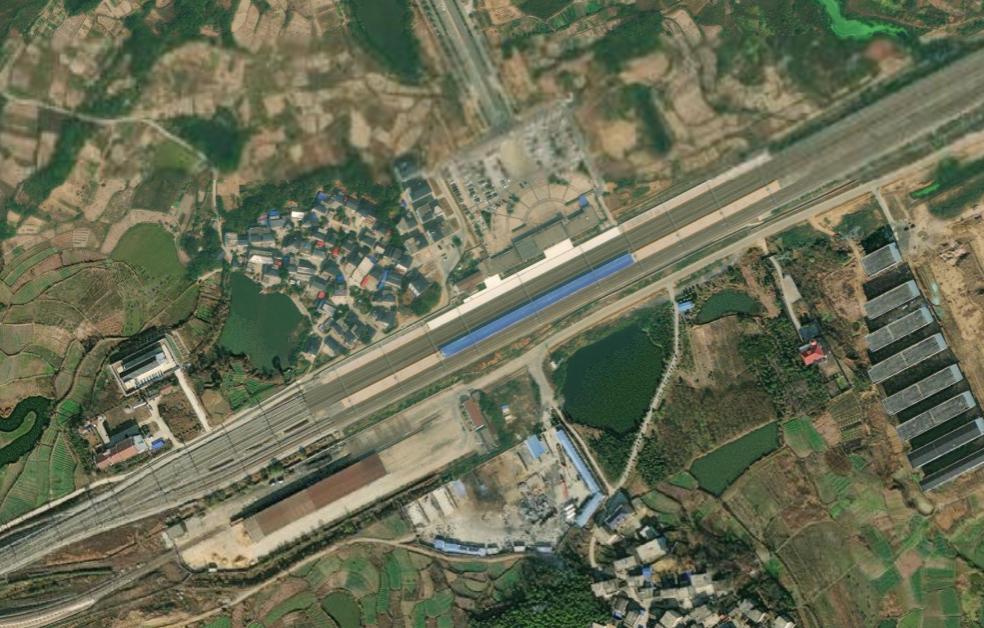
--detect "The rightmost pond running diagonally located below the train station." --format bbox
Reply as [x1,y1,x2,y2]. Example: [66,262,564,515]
[688,422,778,497]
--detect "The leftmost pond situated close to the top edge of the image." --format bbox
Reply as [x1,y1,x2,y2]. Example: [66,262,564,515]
[356,0,417,83]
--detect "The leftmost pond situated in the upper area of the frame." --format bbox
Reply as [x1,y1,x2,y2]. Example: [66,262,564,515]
[111,223,184,279]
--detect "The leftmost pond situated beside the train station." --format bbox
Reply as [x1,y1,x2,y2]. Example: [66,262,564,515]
[219,272,307,374]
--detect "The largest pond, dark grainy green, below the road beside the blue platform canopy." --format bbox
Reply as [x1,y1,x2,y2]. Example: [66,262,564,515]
[563,322,665,433]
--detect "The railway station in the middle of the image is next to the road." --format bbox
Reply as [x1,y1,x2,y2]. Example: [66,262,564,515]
[279,154,784,406]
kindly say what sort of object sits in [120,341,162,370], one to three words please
building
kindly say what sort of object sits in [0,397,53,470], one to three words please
pond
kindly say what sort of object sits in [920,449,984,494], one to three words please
shed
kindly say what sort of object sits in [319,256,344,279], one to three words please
house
